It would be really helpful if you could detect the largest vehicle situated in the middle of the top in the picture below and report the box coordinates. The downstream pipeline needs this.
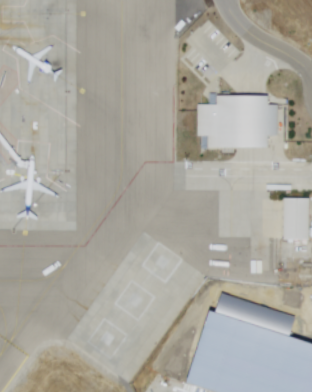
[172,18,187,32]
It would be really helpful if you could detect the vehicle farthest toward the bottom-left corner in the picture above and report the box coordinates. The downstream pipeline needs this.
[42,260,61,274]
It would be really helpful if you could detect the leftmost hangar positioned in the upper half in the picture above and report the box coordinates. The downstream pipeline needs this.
[197,92,278,152]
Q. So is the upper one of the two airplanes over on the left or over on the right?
left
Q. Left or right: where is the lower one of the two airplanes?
left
